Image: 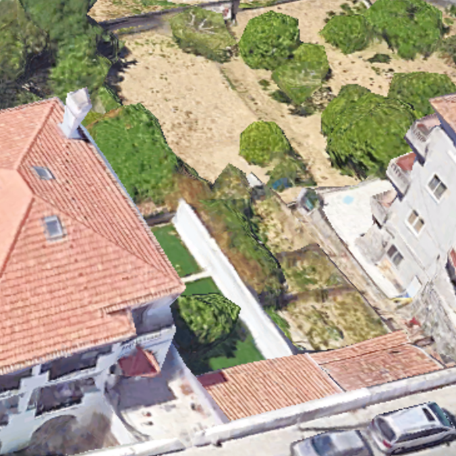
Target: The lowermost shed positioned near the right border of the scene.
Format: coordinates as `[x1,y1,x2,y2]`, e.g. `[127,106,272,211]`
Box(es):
[318,331,446,399]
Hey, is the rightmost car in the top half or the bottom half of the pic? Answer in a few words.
bottom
